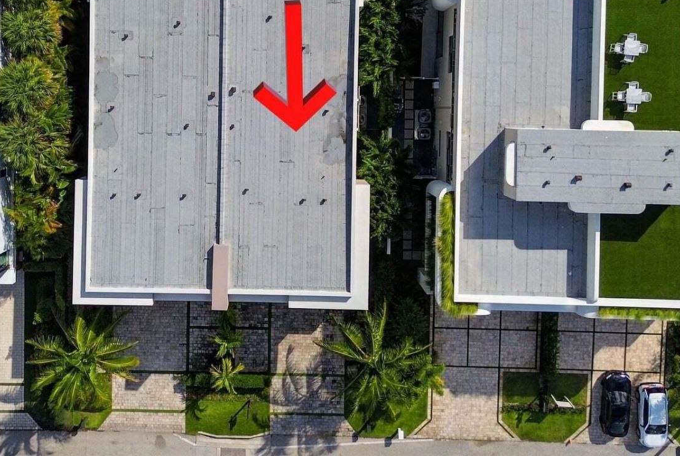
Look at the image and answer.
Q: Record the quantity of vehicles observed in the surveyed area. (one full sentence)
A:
My tally gives 2 vehicles in this view.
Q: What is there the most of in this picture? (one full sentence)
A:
Most of the picture is covered by buildings.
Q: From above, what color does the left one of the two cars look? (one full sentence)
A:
From above, the left one of the two cars appears black.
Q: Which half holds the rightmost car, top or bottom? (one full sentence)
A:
The rightmost car sits in the bottom half of the picture.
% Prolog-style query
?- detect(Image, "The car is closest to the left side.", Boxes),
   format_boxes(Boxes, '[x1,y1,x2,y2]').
[598,368,637,443]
